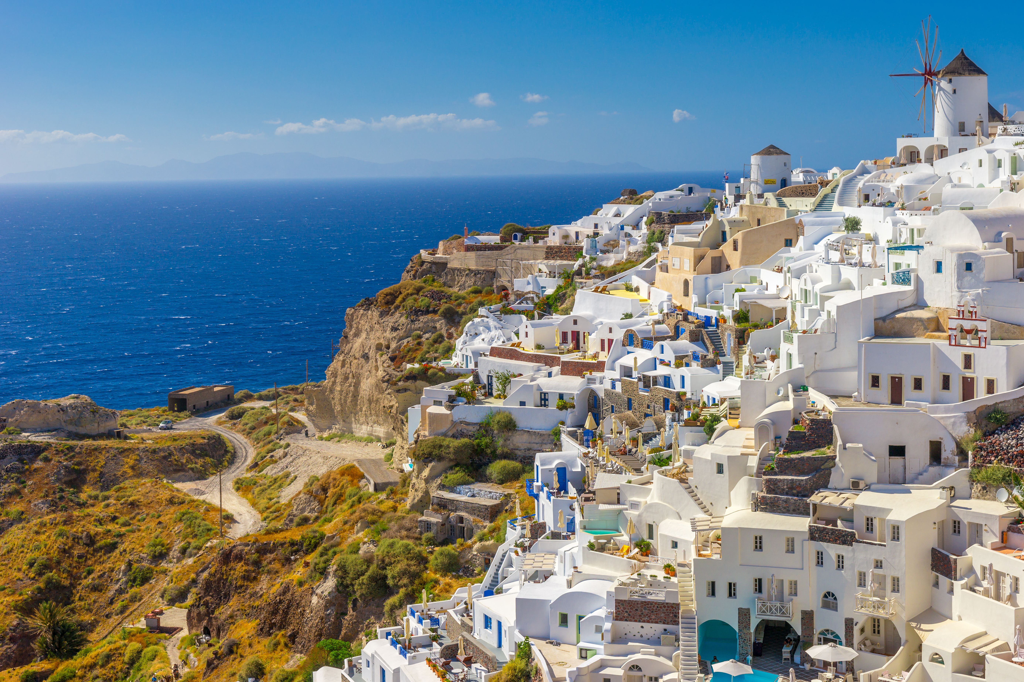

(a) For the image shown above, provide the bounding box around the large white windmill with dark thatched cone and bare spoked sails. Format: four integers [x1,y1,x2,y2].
[887,17,992,159]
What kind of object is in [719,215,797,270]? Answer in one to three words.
house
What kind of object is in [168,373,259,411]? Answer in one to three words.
building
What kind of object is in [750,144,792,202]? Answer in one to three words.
windmill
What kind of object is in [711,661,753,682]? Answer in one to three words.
umbrella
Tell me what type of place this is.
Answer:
residential area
